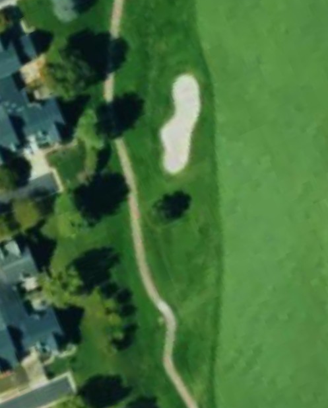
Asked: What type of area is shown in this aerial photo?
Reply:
golf course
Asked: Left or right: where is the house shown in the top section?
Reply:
left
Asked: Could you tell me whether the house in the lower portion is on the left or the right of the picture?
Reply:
left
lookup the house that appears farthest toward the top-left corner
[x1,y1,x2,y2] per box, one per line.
[0,33,69,157]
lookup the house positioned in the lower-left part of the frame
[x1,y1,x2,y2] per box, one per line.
[0,240,67,368]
